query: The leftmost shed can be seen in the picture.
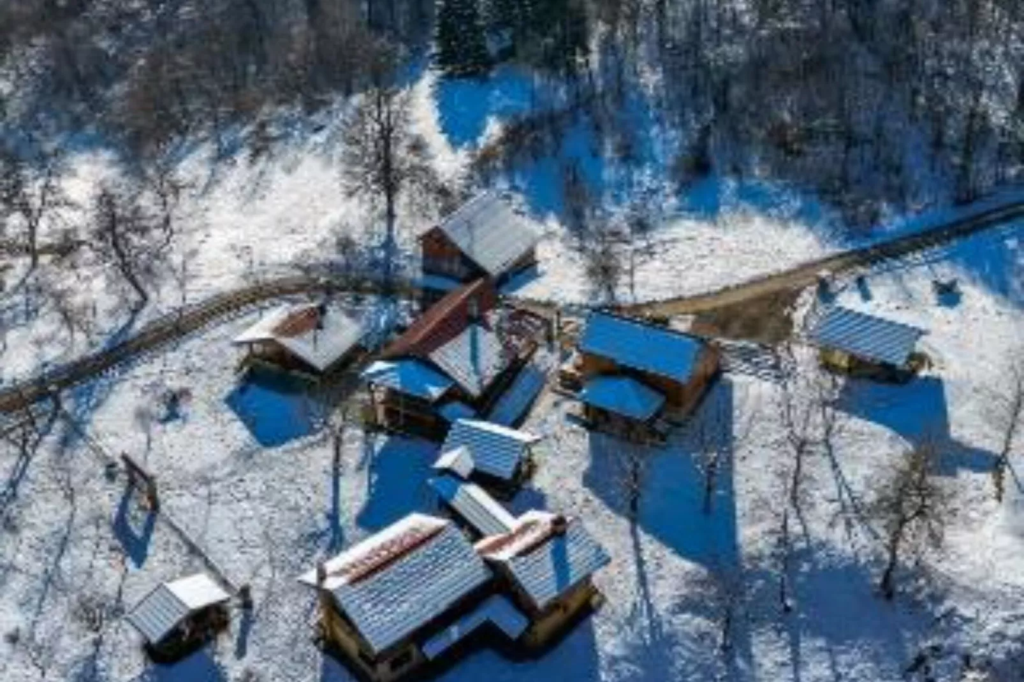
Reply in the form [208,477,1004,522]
[125,571,230,660]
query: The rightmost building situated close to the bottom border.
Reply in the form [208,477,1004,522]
[474,508,624,661]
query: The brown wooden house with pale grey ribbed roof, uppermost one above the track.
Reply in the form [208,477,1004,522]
[404,192,537,314]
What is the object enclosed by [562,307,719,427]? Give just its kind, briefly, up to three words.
house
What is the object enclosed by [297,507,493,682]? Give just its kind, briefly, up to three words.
house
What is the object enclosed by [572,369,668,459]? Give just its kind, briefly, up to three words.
building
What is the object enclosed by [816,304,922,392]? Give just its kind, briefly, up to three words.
shed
